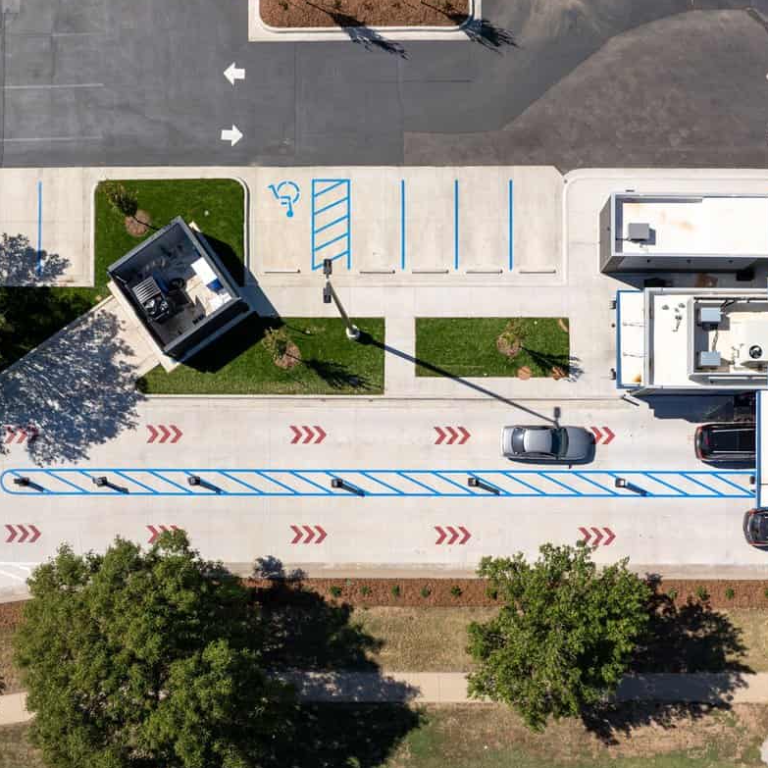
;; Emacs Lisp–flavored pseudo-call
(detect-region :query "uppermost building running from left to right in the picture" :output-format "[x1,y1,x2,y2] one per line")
[599,193,768,274]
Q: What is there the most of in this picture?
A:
paved ground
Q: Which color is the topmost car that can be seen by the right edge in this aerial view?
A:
black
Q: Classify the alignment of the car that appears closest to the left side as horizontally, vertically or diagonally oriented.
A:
horizontally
